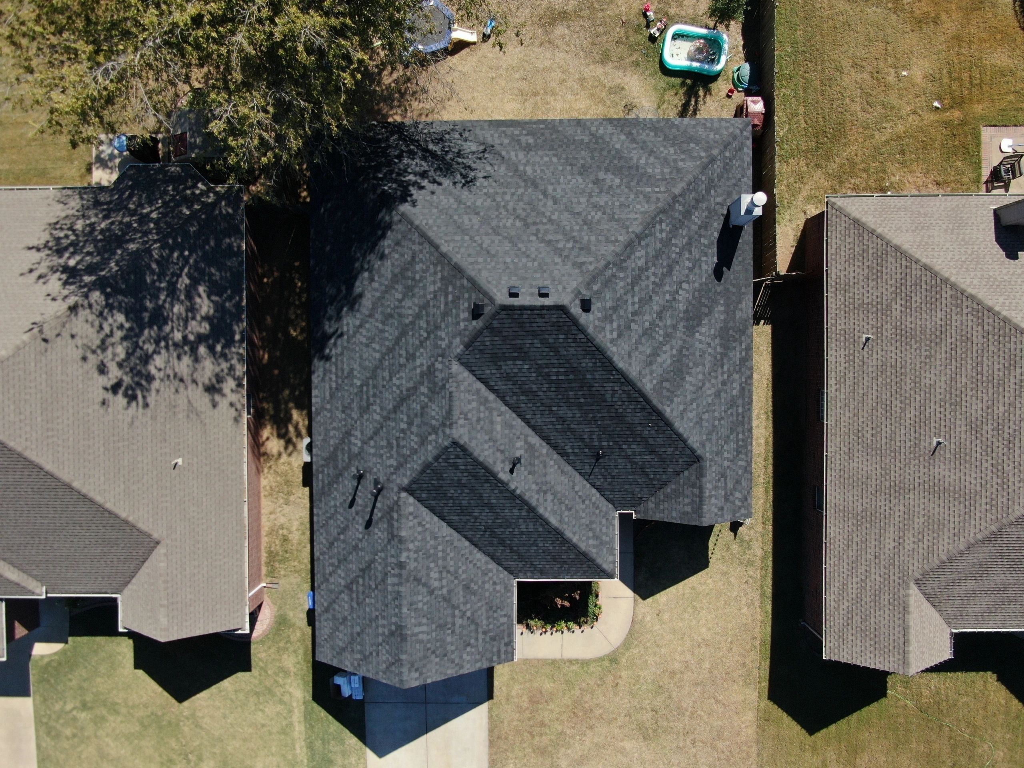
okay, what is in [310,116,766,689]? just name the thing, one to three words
house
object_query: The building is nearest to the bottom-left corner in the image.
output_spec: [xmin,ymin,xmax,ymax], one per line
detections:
[0,162,268,664]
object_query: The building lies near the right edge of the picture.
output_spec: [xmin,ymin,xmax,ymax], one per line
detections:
[799,194,1024,677]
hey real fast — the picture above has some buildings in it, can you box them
[799,194,1024,677]
[310,116,766,689]
[0,162,268,664]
